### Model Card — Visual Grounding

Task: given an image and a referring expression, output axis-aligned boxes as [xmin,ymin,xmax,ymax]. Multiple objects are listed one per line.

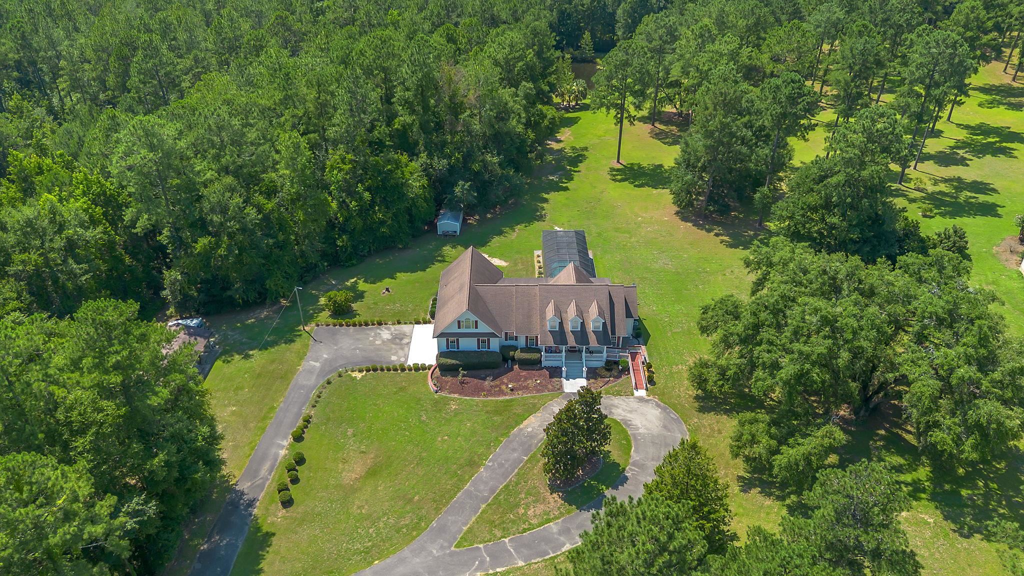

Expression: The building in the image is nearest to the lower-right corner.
[432,246,639,378]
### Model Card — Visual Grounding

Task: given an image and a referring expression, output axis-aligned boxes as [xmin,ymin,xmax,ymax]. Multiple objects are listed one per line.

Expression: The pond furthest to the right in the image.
[557,51,634,96]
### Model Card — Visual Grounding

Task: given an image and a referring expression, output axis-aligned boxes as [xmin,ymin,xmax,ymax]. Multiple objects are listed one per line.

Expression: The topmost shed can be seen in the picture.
[436,206,463,235]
